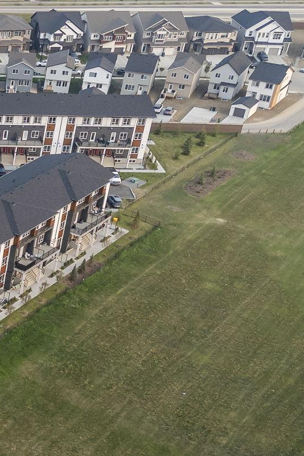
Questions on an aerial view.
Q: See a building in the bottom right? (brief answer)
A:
No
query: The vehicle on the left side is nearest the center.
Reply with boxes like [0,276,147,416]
[107,195,123,208]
